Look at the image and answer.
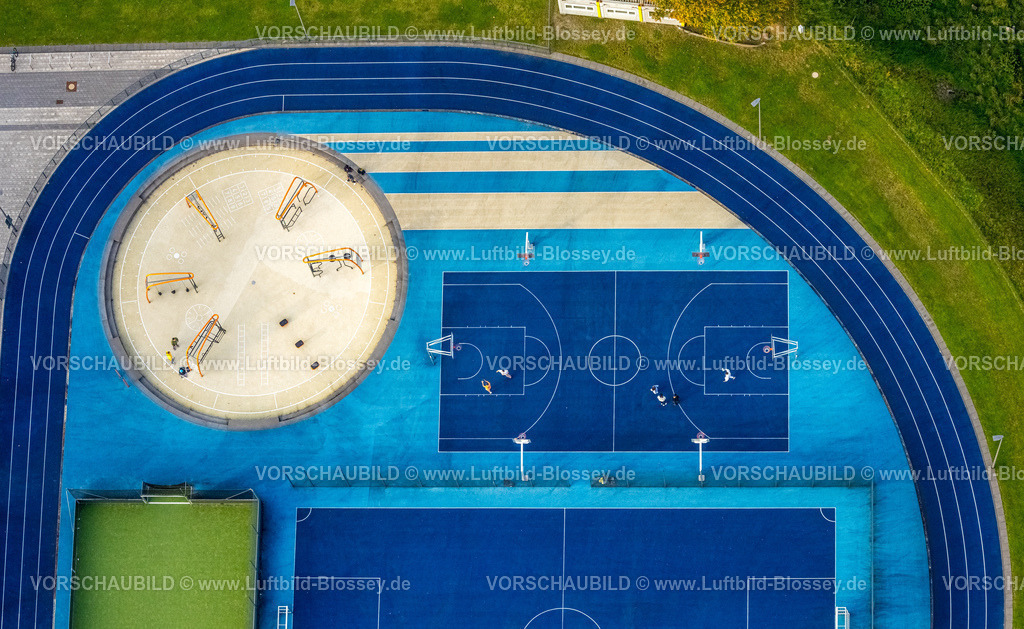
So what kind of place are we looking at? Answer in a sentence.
What you see here is a sports ground.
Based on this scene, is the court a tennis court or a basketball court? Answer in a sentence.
I'd say the court is a basketball court.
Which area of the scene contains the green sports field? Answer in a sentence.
Look in the bottom left portion of the view to spot the green sports field.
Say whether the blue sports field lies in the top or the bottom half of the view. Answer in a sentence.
It is in the bottom half that the blue sports field appears.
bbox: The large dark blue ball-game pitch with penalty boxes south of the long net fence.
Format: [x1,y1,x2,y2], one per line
[292,507,837,629]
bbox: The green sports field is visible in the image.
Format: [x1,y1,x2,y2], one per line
[73,503,258,629]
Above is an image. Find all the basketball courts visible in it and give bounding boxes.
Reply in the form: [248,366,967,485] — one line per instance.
[439,270,790,452]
